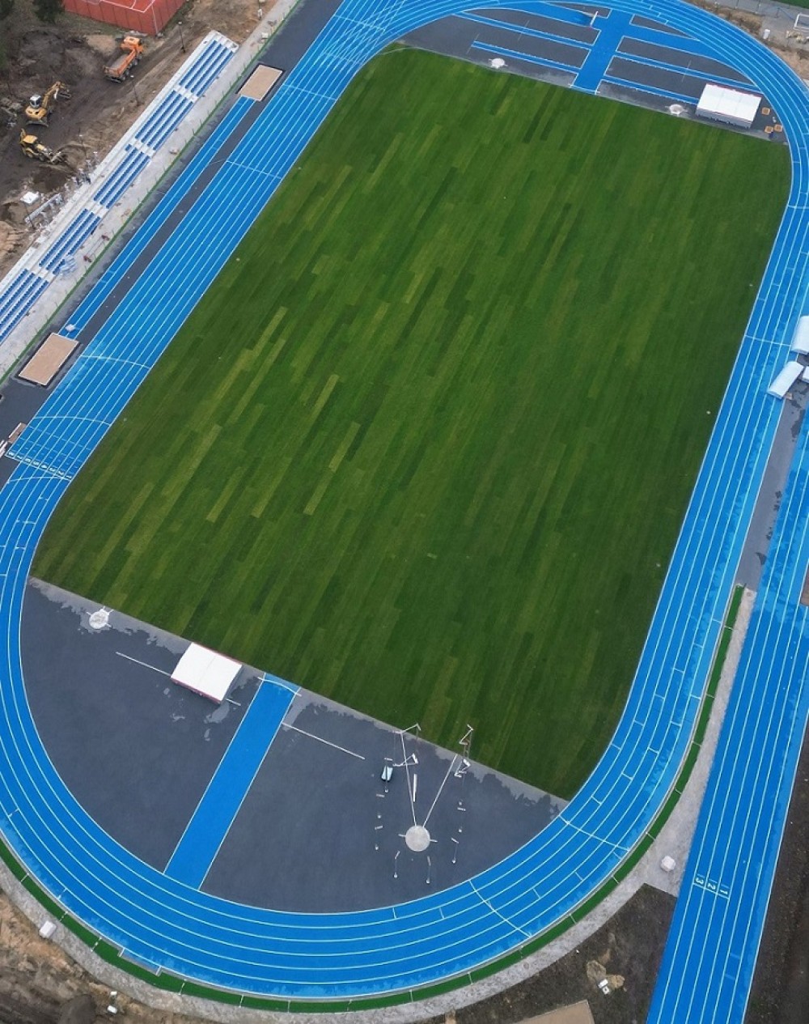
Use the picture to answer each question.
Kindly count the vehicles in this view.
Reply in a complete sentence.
The count of vehicles comes to 3.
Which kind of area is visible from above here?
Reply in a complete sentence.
This looks like a sports ground.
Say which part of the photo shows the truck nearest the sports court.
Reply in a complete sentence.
You can find the truck nearest the sports court in the top left area of the picture.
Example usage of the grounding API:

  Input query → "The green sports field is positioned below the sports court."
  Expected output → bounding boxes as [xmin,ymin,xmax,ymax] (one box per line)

[29,42,792,803]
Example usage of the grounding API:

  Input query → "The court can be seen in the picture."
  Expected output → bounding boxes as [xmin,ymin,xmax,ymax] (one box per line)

[64,0,187,37]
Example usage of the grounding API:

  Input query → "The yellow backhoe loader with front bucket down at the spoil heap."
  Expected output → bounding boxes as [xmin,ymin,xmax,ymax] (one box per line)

[22,132,64,163]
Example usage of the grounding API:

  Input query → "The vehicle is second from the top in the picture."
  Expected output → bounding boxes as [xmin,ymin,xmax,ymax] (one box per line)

[27,80,75,130]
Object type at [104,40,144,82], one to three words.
truck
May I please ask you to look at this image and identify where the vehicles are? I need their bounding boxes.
[22,132,64,163]
[104,40,144,82]
[27,80,75,130]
